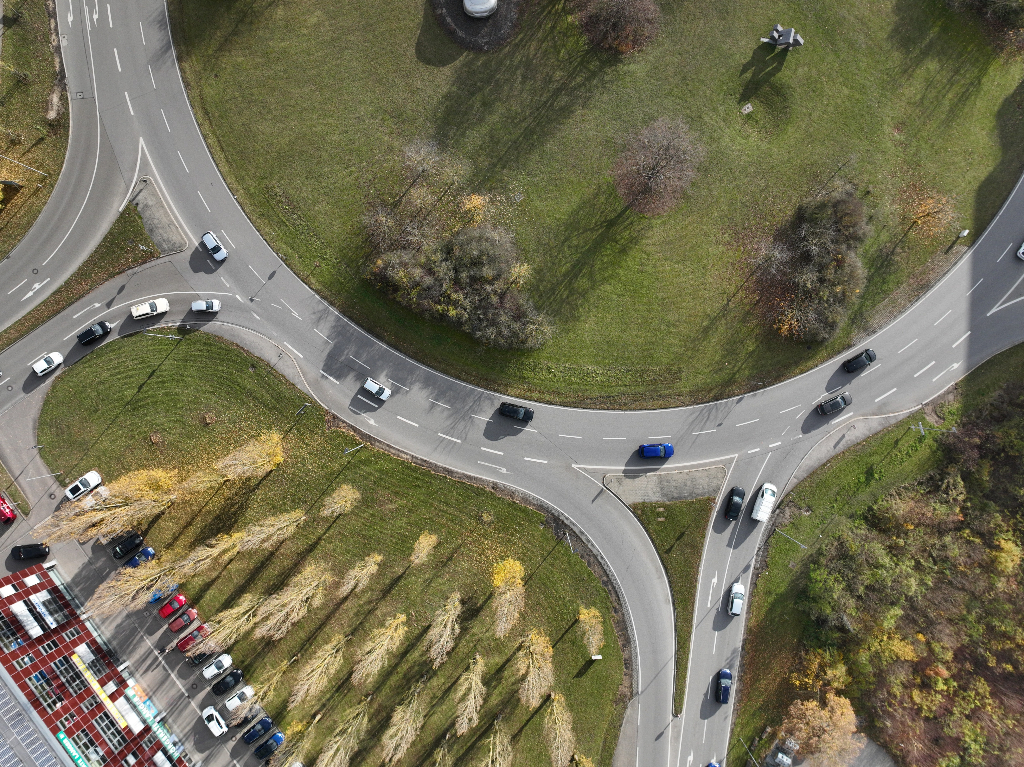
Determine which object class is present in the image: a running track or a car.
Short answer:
car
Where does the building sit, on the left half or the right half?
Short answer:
left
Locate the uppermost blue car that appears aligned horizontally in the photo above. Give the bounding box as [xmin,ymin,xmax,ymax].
[638,442,674,460]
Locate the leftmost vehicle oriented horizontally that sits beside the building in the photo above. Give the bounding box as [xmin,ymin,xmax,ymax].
[11,542,51,561]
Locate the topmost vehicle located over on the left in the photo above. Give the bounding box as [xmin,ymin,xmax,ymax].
[200,229,229,263]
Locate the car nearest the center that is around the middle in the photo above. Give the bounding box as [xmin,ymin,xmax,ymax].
[499,403,533,420]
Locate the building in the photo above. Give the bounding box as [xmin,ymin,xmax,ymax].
[0,556,201,767]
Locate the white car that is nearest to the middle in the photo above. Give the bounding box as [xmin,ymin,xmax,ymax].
[361,378,392,401]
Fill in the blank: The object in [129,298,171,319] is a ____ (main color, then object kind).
white car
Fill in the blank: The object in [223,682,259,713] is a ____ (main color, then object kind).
white car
